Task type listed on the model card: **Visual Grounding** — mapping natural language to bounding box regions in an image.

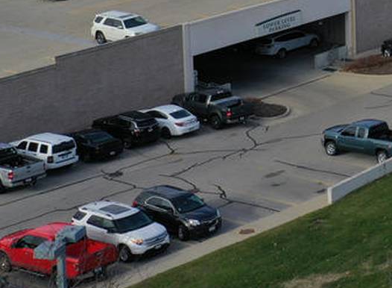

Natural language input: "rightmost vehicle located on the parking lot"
[321,119,392,161]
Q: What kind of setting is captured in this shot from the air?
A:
parking lot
